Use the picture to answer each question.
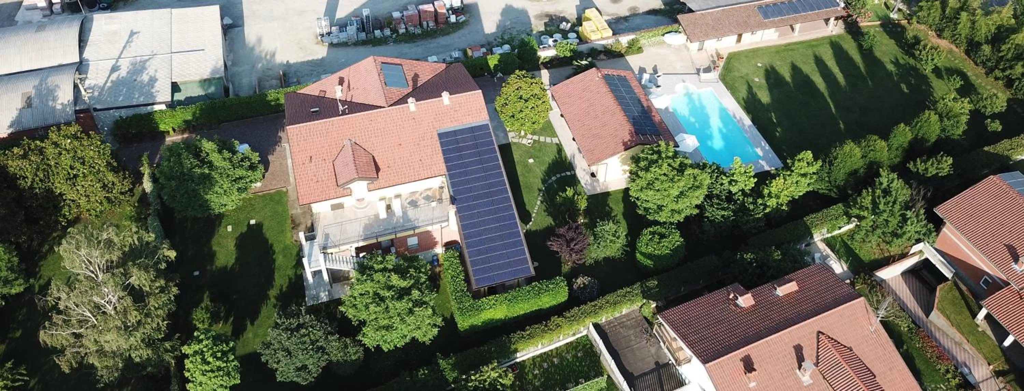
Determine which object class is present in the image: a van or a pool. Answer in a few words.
pool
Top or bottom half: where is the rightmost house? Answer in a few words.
bottom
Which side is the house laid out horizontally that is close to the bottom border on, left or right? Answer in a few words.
right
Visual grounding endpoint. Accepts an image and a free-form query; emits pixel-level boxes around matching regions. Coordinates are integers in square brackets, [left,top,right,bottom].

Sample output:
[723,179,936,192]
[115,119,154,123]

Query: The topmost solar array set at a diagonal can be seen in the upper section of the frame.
[605,71,660,136]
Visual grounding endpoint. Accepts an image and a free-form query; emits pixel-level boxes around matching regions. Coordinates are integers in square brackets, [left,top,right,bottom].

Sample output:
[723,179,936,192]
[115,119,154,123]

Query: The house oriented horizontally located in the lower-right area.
[651,256,928,391]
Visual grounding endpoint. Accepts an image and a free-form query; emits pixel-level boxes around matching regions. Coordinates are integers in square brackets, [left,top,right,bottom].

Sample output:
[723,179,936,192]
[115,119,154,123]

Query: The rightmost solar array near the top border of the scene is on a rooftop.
[757,0,841,21]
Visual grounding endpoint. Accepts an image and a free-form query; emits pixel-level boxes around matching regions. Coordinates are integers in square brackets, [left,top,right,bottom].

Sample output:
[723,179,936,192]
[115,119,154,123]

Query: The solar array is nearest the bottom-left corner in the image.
[435,120,540,290]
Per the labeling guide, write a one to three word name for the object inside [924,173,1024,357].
house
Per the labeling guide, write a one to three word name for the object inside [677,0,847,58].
building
